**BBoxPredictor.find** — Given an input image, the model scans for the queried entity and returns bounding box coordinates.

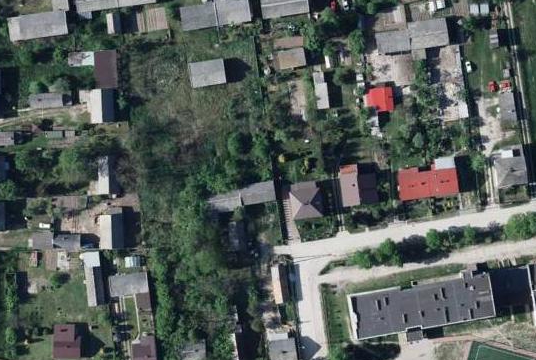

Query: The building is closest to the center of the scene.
[242,181,276,205]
